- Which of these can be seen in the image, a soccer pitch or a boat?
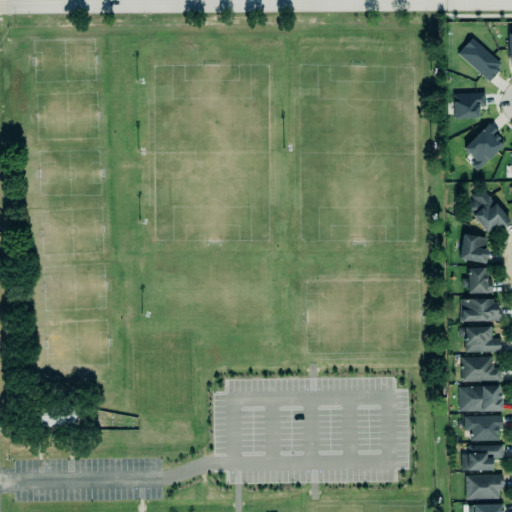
soccer pitch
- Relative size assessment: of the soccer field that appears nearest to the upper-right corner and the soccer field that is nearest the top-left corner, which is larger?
the soccer field that appears nearest to the upper-right corner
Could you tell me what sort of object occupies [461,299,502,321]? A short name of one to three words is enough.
house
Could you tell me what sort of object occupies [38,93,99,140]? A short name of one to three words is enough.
soccer field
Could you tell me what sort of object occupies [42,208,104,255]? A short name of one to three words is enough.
soccer field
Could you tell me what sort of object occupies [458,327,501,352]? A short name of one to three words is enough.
house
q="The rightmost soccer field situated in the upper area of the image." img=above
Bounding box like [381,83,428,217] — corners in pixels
[294,65,416,241]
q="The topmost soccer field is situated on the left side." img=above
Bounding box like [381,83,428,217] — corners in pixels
[35,38,97,82]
